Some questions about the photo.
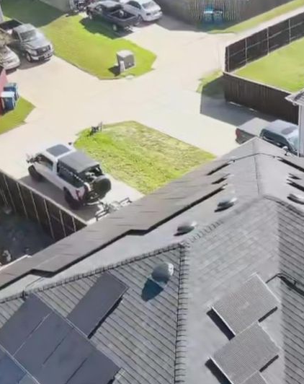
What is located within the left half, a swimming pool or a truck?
truck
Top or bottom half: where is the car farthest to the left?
top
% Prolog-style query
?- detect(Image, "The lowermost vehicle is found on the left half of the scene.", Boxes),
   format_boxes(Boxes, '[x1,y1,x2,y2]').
[23,142,120,211]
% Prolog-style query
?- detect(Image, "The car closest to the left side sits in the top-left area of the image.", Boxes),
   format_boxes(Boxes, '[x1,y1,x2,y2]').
[0,34,24,68]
